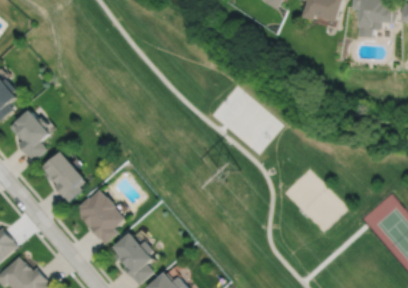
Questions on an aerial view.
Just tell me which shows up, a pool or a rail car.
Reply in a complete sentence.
It is a pool that can be seen here.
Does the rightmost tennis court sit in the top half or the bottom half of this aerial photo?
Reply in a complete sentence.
The rightmost tennis court is in the bottom half of the image.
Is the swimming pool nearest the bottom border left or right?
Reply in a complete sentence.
It is on the left.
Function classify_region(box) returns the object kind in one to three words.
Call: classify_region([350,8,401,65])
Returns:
swimming pool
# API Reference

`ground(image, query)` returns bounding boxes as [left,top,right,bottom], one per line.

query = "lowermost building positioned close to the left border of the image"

[0,258,49,288]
